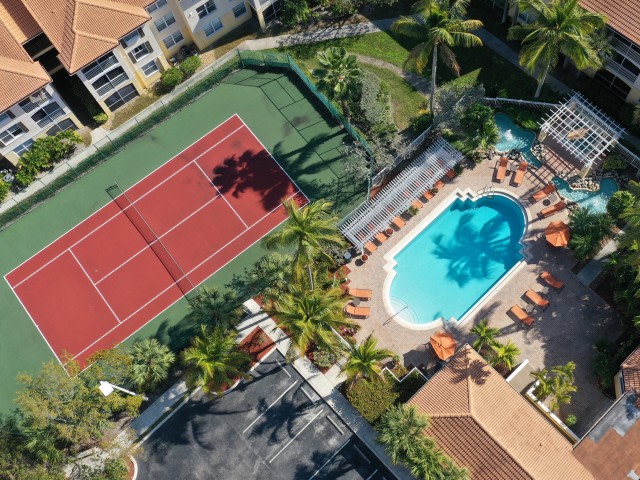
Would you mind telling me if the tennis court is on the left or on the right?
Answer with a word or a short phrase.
left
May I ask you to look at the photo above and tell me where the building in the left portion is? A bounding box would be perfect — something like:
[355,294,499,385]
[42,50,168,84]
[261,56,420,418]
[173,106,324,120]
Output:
[0,0,304,183]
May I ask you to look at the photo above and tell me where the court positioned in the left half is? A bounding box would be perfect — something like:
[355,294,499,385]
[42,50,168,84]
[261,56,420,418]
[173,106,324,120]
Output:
[0,66,372,455]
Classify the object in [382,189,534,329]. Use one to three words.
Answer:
swimming pool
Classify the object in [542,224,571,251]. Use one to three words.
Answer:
umbrella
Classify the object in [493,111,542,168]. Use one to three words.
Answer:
swimming pool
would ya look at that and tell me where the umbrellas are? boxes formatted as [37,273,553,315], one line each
[426,331,459,364]
[542,224,571,251]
